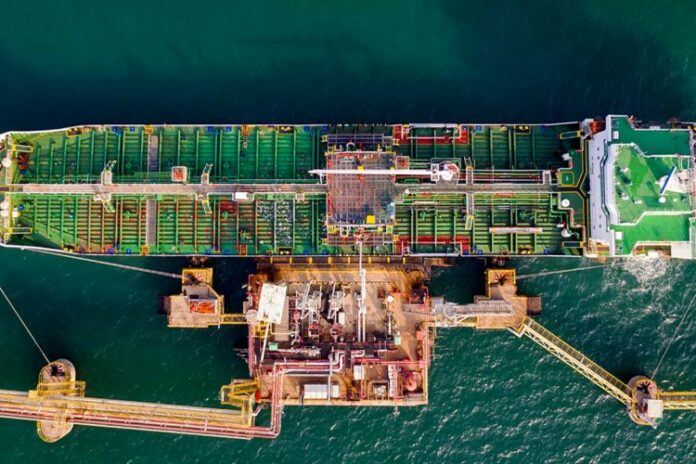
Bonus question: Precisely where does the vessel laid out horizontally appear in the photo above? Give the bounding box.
[0,115,696,257]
